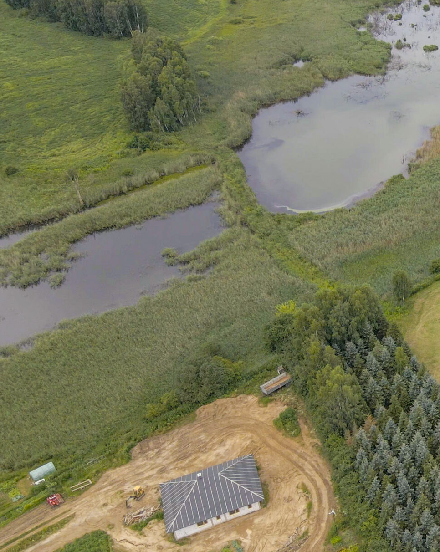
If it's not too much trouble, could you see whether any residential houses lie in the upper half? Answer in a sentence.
No, no residential house can be made out in the upper half.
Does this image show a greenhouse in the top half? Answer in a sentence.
No, there is no greenhouse in the top half.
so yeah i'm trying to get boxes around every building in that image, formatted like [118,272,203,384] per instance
[25,462,58,488]
[160,453,263,539]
